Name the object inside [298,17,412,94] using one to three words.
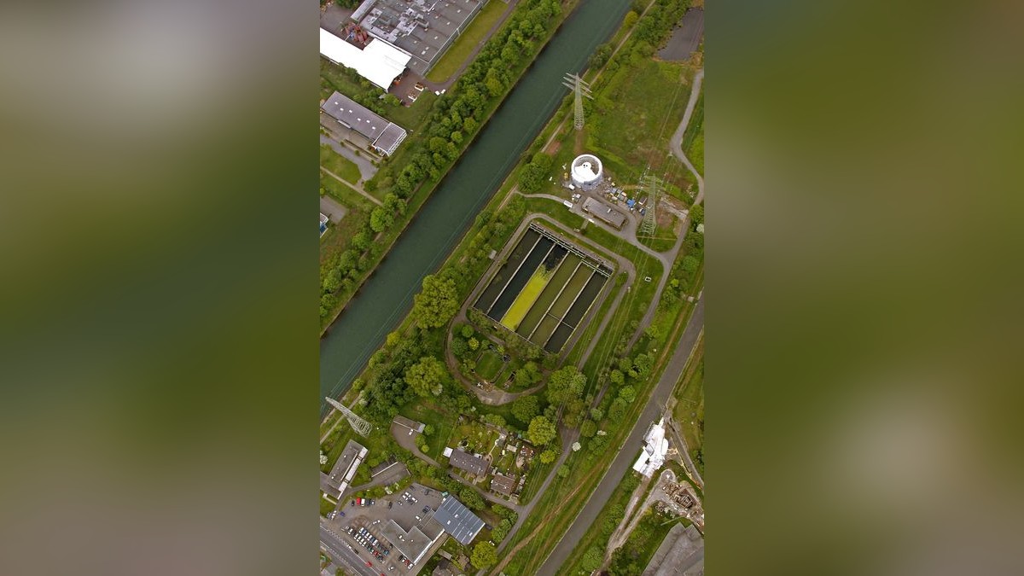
building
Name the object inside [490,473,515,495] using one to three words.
house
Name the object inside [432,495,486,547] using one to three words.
building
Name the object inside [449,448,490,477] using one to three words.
house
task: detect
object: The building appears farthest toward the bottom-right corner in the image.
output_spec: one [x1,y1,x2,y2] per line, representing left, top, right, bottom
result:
[642,523,730,576]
